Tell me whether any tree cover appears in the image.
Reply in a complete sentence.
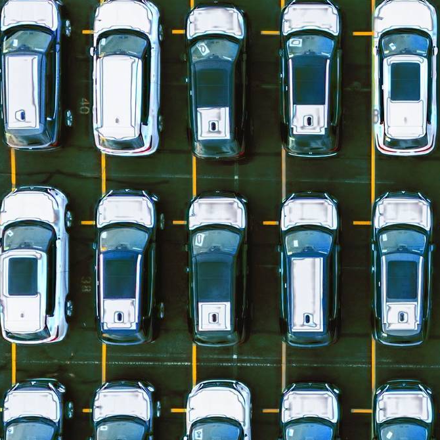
No, the picture contains no tree cover.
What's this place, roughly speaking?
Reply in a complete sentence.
What you see here is a parking lot.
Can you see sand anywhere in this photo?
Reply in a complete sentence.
No, there's no sand in this view.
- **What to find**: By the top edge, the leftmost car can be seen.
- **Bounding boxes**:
[0,0,72,151]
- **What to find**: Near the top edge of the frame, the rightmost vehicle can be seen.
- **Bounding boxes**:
[372,0,438,155]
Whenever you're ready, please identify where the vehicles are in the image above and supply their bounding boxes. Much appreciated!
[92,189,164,346]
[276,382,343,440]
[183,381,252,440]
[371,381,437,440]
[184,190,253,347]
[370,190,436,348]
[183,2,252,160]
[0,0,72,151]
[276,190,343,348]
[91,0,165,155]
[0,379,72,440]
[0,187,73,345]
[277,0,344,156]
[88,381,160,440]
[372,0,438,155]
